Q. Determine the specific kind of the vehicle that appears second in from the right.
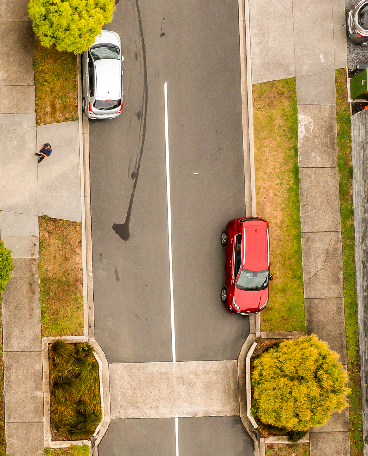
automobile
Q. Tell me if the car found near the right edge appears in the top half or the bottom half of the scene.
top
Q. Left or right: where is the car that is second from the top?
left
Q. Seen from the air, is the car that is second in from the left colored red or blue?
red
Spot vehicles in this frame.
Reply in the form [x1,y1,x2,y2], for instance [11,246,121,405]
[79,31,128,123]
[345,1,368,46]
[217,217,274,317]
